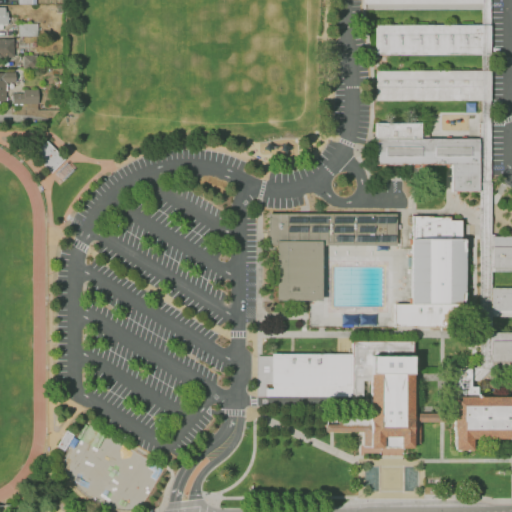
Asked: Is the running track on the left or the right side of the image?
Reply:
left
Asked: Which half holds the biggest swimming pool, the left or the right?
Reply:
right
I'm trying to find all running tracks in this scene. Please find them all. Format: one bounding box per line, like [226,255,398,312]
[0,146,46,504]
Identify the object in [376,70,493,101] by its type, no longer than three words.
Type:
building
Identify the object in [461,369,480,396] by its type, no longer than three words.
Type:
shed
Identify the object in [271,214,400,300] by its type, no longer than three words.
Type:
building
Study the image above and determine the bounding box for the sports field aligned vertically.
[0,164,34,486]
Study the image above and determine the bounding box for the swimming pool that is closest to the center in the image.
[330,263,386,310]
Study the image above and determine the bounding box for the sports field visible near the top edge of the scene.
[56,0,321,160]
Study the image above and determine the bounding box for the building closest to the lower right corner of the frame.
[456,398,512,452]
